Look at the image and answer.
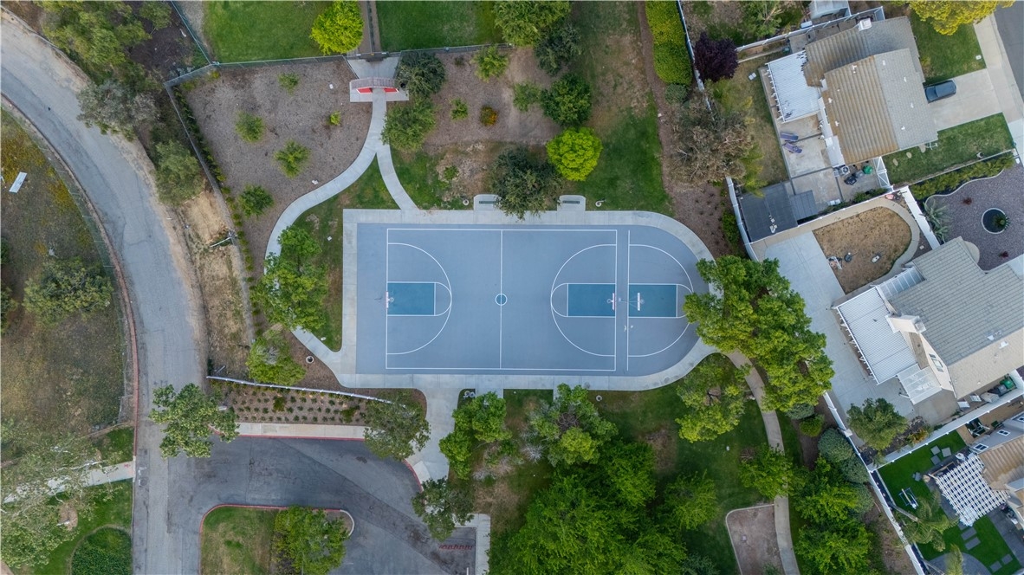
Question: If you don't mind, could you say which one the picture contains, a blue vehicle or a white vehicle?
blue vehicle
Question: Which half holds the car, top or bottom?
top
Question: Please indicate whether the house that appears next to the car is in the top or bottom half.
top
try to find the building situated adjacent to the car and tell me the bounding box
[805,16,938,166]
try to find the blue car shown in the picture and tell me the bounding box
[923,79,959,103]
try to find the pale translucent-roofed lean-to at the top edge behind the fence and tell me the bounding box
[795,0,848,29]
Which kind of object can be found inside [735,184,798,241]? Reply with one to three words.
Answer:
shed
